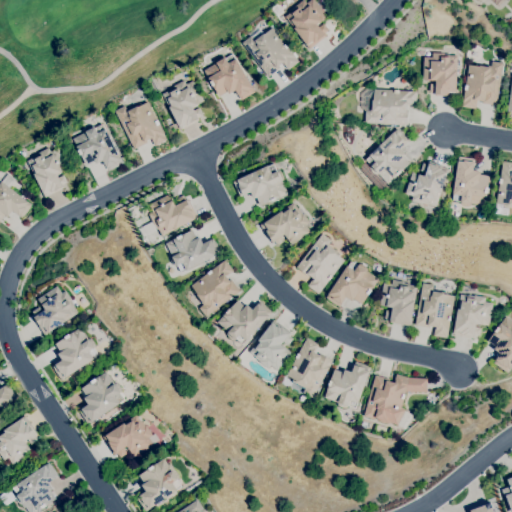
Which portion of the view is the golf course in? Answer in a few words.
top left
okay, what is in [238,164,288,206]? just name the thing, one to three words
house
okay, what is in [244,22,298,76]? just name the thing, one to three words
house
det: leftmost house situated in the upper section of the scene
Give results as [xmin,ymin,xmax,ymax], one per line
[0,173,32,222]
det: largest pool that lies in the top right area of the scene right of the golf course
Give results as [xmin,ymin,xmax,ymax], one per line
[382,68,400,83]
